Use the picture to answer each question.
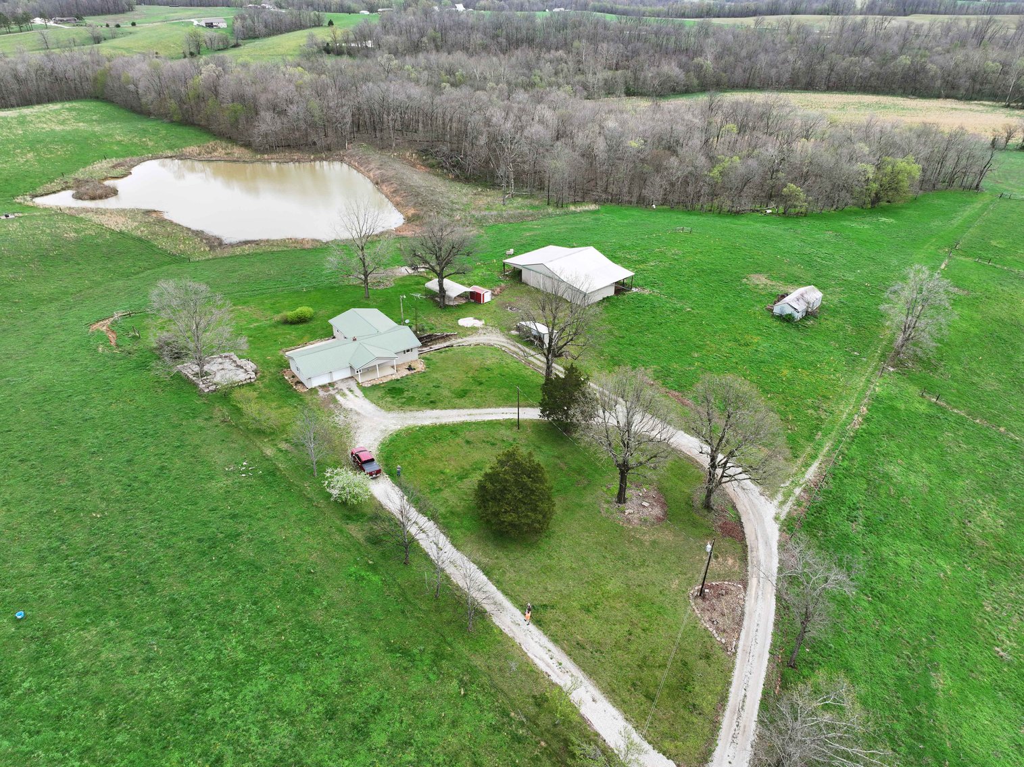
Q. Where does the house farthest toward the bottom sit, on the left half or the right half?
left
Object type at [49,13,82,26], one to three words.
house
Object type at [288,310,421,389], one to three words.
house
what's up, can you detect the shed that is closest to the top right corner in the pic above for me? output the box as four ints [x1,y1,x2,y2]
[775,285,822,321]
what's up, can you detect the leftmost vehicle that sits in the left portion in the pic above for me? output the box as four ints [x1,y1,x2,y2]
[349,442,383,476]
